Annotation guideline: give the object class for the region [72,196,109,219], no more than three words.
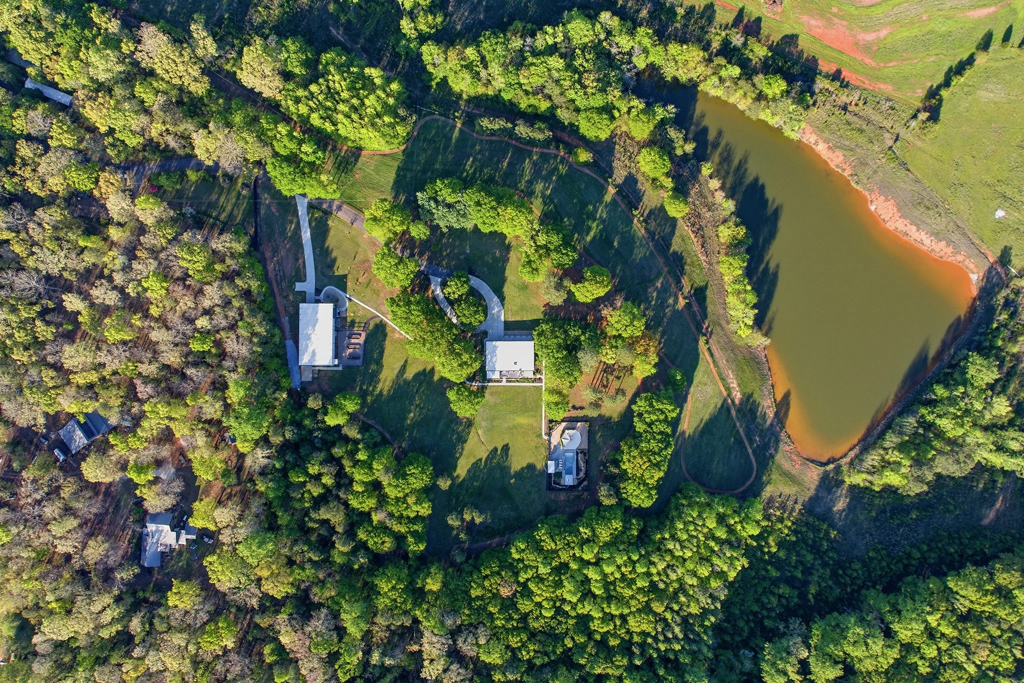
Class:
house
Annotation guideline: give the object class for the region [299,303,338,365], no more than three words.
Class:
barn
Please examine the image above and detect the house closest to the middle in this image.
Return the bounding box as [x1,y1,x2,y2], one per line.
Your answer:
[486,341,534,379]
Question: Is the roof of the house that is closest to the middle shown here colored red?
No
